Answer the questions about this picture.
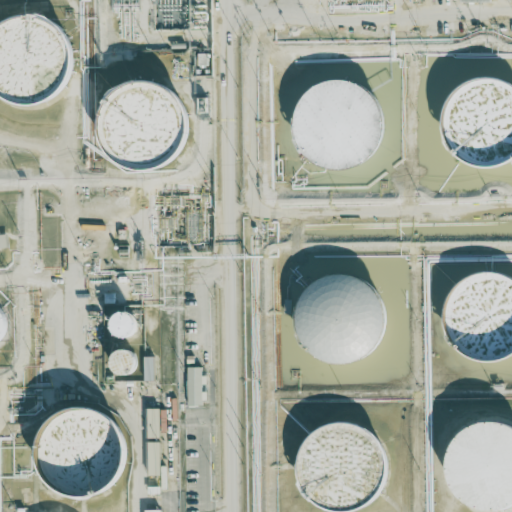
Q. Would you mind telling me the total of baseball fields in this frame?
0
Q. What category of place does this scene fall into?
industrial area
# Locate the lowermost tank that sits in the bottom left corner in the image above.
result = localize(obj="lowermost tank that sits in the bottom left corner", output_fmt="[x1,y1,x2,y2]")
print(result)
[32,404,129,498]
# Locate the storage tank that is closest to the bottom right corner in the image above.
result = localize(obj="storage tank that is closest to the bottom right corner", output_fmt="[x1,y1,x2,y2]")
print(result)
[442,419,512,512]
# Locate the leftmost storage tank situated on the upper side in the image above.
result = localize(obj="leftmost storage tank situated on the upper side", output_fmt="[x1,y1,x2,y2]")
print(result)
[0,10,74,107]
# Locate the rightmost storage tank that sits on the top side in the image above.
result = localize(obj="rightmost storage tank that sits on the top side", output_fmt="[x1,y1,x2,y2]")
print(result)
[438,76,512,170]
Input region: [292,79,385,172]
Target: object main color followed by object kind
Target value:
white storage tank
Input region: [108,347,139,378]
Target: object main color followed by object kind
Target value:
white storage tank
